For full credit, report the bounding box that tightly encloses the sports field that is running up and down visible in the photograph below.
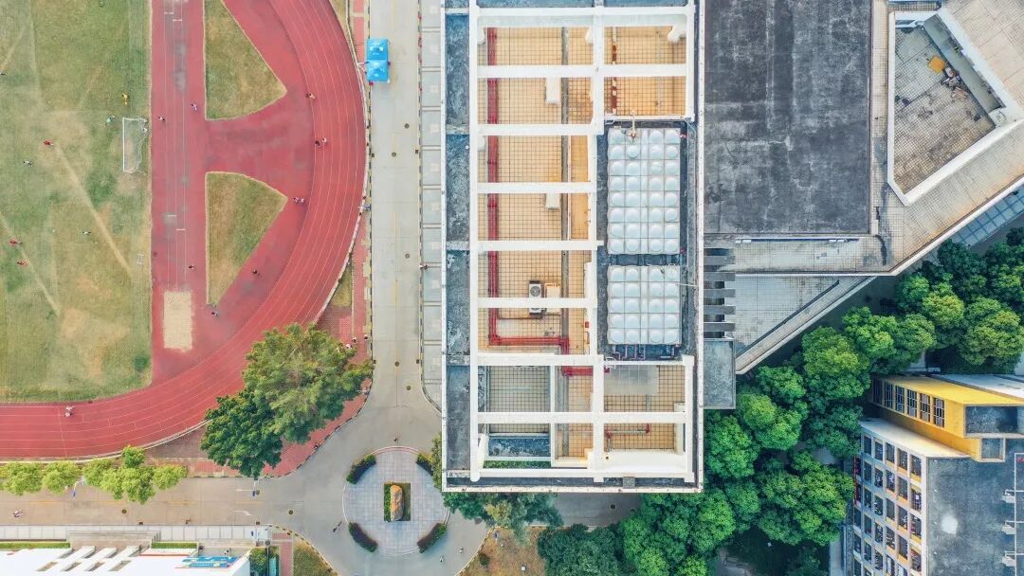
[0,0,149,401]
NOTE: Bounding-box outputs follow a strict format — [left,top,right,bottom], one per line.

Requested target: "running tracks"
[0,0,368,462]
